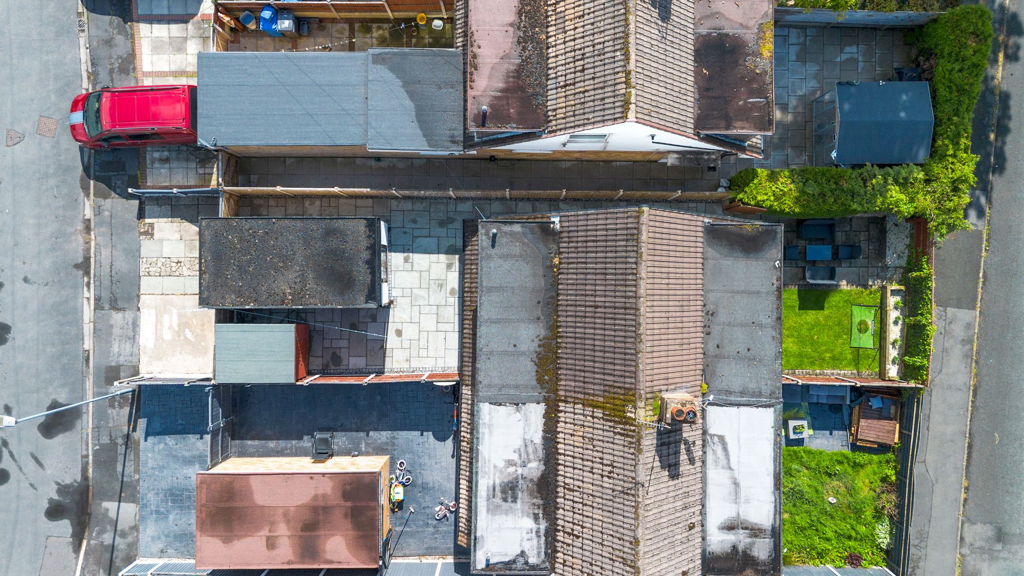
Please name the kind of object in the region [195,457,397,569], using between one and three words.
building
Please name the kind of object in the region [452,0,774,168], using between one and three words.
house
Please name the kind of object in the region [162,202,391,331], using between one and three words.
building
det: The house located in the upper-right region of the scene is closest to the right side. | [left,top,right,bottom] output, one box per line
[813,80,938,170]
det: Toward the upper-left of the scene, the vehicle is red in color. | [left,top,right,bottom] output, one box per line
[64,80,201,151]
